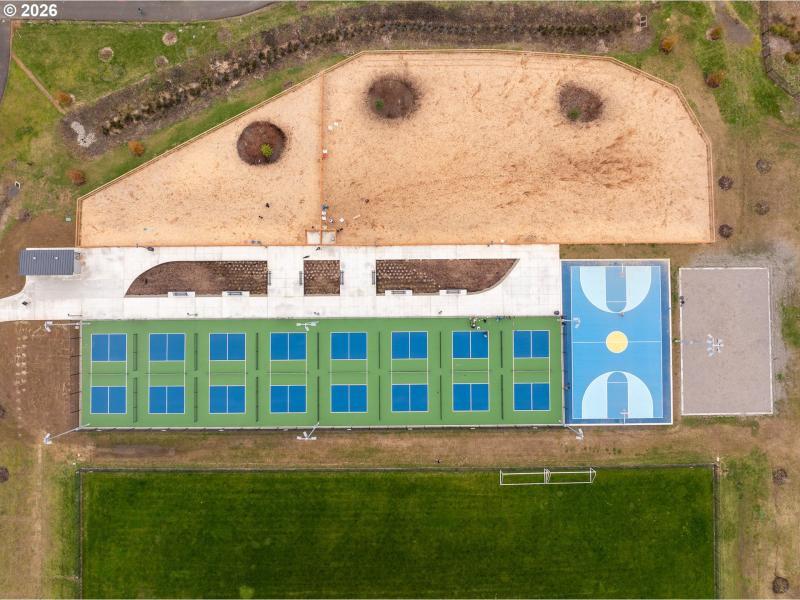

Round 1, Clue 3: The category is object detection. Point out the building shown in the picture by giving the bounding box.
[20,250,83,276]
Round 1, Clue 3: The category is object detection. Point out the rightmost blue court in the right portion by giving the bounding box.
[559,259,673,425]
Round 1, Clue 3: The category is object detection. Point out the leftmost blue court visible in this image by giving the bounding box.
[91,333,127,414]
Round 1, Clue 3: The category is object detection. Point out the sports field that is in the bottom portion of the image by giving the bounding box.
[81,468,715,600]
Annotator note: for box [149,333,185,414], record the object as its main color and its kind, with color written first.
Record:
blue sports court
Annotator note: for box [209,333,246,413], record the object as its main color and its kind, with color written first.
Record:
blue sports court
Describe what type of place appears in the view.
sports ground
